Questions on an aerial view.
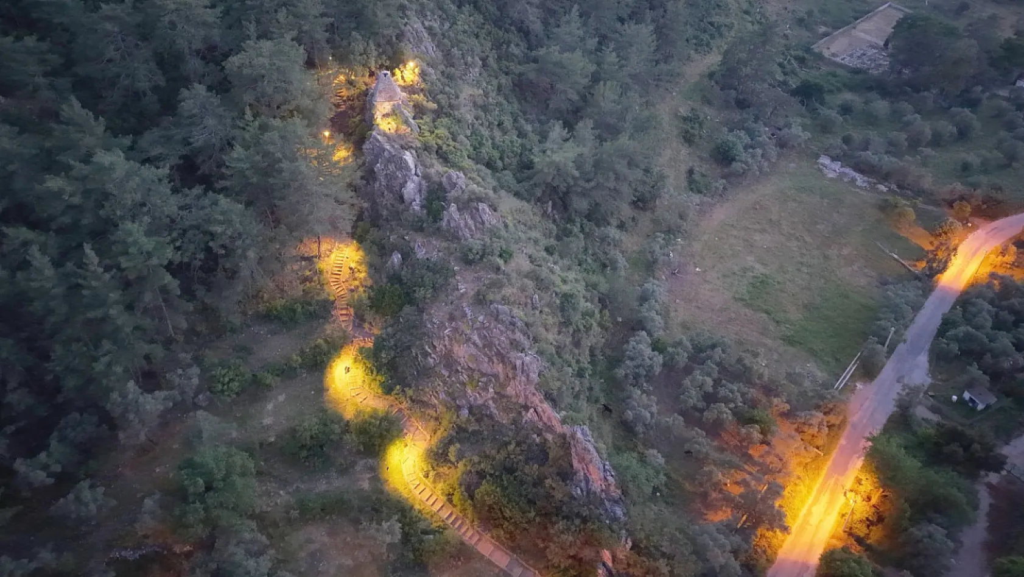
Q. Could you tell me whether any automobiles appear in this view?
No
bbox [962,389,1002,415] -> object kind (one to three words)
shed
